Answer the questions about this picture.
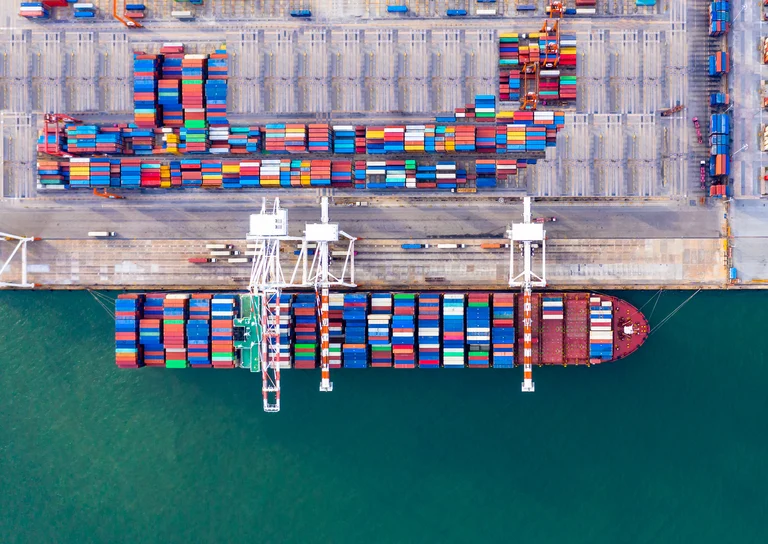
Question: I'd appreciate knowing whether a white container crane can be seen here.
Yes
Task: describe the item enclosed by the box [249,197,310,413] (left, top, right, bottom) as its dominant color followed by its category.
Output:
white container crane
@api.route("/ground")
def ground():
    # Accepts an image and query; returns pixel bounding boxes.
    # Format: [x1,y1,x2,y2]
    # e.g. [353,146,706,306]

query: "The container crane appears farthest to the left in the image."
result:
[0,233,43,287]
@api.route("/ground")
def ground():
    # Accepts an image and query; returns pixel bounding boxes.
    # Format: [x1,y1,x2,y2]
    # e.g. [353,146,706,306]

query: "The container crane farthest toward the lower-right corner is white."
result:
[498,197,552,392]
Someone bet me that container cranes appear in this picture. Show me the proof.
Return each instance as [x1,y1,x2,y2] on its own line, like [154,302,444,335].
[498,197,552,392]
[44,112,81,158]
[306,197,364,392]
[538,19,562,68]
[0,233,43,287]
[518,62,542,107]
[249,197,310,413]
[542,0,566,21]
[112,0,146,26]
